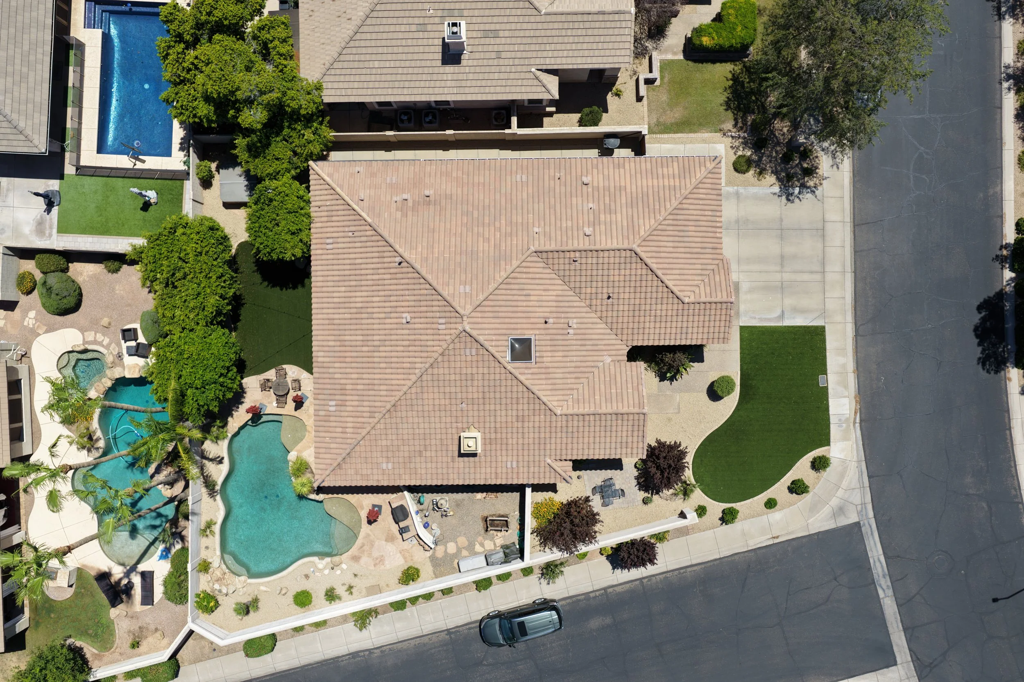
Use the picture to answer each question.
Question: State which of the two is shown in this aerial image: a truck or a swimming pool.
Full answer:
There is a swimming pool in the scene.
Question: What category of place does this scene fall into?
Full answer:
This looks like a residential area.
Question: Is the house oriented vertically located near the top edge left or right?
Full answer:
The house oriented vertically located near the top edge appears in the left half of the scene.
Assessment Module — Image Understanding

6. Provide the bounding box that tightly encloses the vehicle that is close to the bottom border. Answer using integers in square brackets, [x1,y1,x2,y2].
[477,597,564,649]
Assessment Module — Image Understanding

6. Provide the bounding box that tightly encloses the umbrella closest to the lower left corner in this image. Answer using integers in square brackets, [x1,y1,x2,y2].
[248,402,268,416]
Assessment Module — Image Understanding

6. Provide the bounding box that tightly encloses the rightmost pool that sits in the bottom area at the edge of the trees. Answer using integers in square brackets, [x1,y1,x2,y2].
[215,414,361,583]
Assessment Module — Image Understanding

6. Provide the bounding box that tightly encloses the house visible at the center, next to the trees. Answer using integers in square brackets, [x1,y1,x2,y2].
[307,153,735,489]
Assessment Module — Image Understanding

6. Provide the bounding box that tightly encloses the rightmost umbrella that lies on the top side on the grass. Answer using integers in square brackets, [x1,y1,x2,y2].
[127,186,158,203]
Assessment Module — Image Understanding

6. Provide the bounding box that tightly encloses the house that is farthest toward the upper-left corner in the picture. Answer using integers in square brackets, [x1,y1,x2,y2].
[0,0,71,163]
